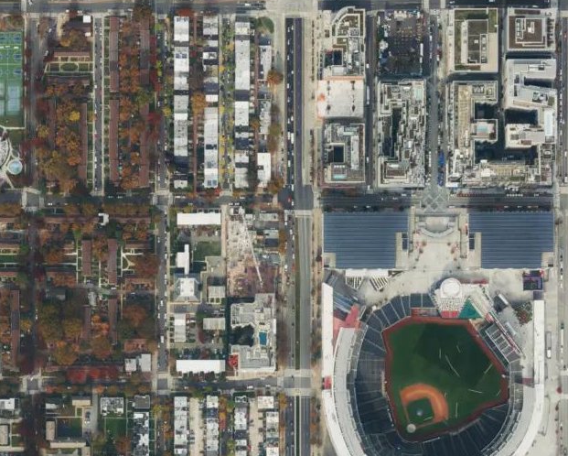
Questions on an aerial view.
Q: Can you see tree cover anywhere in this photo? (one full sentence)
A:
Yes, tree cover can be seen from above here.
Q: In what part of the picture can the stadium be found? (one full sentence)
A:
Look in the bottom right portion of the view to spot the stadium.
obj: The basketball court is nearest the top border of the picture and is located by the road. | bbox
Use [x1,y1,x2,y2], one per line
[0,32,23,84]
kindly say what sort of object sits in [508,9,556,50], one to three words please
building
